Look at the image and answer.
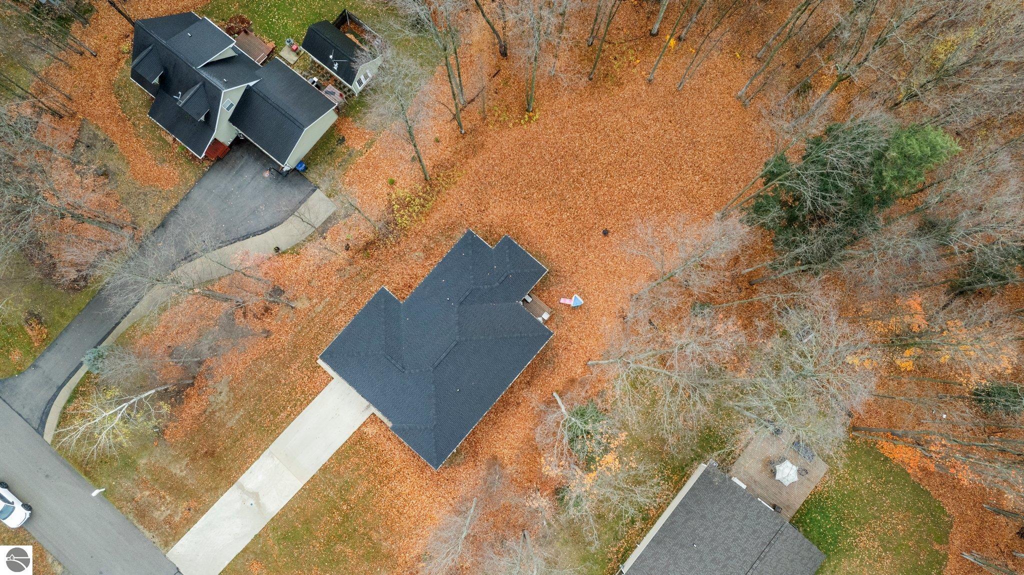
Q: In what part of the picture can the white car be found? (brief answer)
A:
bottom left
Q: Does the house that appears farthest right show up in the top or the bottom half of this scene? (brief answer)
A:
bottom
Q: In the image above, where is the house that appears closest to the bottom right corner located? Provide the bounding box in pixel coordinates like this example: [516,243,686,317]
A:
[617,458,825,575]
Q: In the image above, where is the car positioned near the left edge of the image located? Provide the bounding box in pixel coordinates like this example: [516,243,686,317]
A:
[0,483,32,528]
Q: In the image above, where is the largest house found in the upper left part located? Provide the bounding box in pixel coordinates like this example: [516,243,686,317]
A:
[128,11,340,170]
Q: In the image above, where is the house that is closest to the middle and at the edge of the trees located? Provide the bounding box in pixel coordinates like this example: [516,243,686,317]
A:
[317,227,555,471]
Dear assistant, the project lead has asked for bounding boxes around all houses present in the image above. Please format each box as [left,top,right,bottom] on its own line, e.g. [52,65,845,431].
[128,11,340,170]
[617,458,825,575]
[317,227,555,471]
